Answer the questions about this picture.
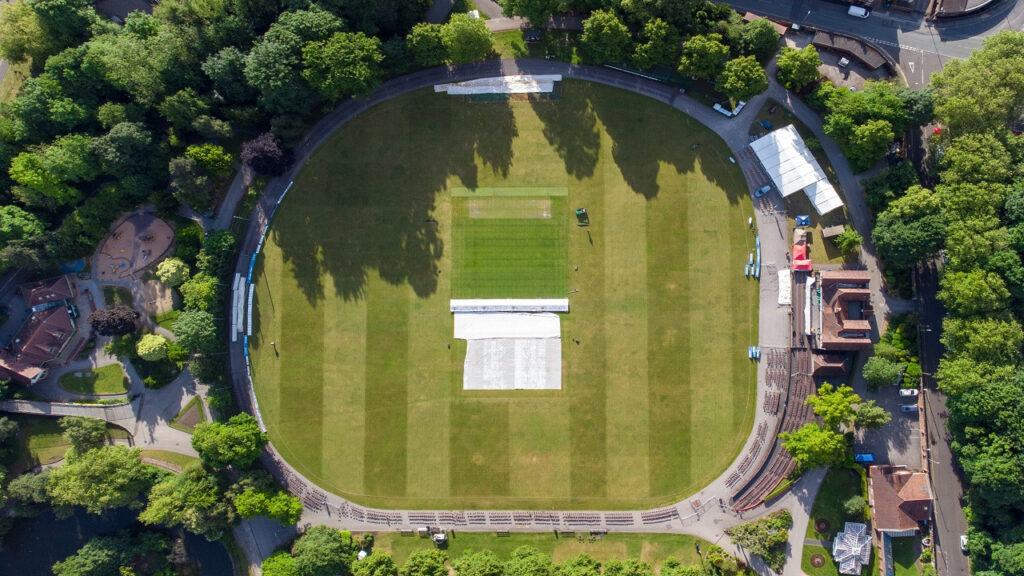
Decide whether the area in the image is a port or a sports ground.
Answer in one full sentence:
What you see here is a sports ground.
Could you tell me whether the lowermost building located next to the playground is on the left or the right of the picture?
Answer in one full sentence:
The lowermost building located next to the playground appears in the left half of the scene.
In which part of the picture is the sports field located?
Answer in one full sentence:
The sports field is in the center part of the image.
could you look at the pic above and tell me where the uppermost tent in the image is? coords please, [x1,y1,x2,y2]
[746,124,844,217]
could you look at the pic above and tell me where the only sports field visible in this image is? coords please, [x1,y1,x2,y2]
[246,78,761,510]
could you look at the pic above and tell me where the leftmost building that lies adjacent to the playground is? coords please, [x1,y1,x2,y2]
[0,274,83,390]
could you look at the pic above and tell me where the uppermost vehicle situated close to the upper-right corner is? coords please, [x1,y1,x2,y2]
[849,4,871,16]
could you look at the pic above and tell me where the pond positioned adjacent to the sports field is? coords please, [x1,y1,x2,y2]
[0,507,233,576]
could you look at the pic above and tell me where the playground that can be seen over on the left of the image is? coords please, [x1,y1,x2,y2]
[96,212,172,281]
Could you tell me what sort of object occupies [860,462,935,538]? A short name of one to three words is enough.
house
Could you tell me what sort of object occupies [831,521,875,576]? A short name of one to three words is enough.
greenhouse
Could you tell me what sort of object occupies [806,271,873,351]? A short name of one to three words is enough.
building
